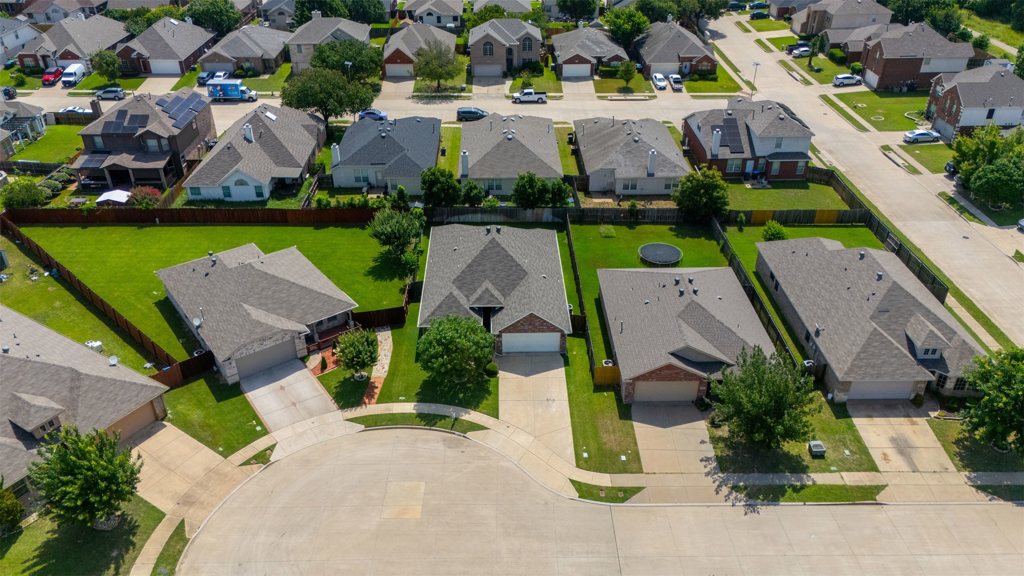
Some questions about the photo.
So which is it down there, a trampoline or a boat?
trampoline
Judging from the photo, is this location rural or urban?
urban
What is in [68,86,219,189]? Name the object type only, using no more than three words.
house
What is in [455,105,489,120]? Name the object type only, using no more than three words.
car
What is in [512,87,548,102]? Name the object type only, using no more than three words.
vehicle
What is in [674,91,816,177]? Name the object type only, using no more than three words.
house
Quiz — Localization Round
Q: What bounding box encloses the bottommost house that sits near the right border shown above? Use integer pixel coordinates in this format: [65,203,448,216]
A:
[755,240,1000,404]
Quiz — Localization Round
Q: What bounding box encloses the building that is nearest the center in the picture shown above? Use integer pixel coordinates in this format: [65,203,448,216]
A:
[417,219,572,359]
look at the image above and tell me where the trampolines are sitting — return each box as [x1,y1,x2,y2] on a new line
[638,243,683,271]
